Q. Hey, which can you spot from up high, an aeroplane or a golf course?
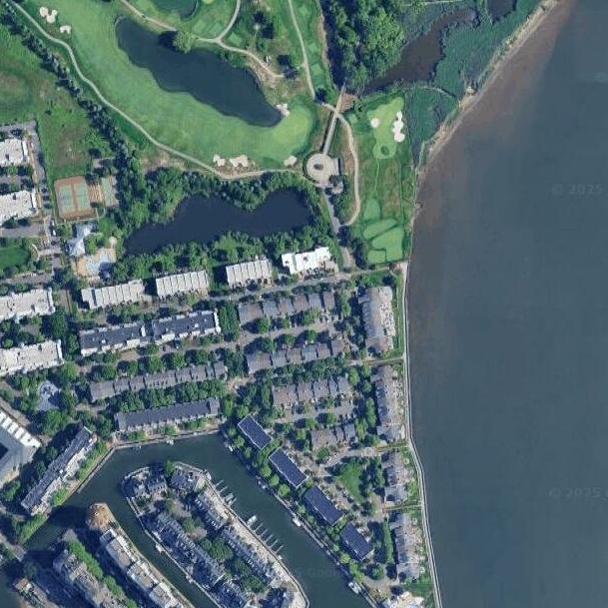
golf course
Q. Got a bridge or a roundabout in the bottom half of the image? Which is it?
bridge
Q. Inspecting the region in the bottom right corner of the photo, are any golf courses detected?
No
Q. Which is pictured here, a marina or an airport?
marina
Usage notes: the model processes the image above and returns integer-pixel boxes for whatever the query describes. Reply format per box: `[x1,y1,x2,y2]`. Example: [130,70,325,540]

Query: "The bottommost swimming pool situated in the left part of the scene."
[74,247,117,276]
